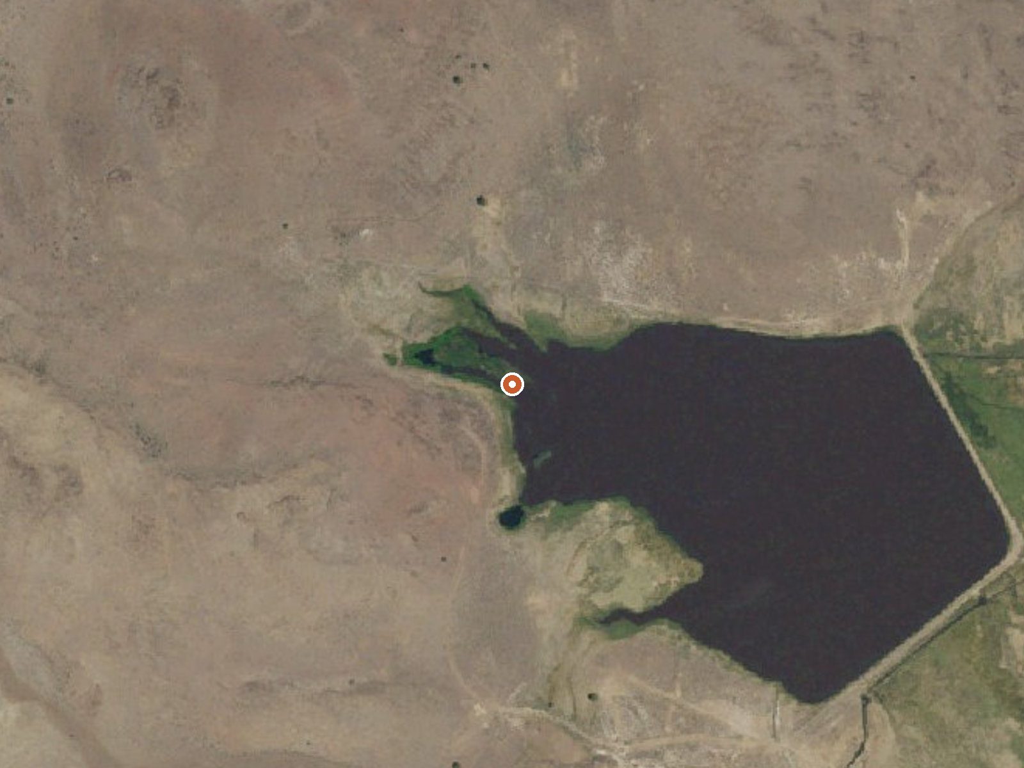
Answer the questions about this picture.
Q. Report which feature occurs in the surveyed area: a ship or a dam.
dam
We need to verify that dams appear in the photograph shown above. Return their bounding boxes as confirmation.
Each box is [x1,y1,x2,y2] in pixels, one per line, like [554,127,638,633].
[833,323,1020,697]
